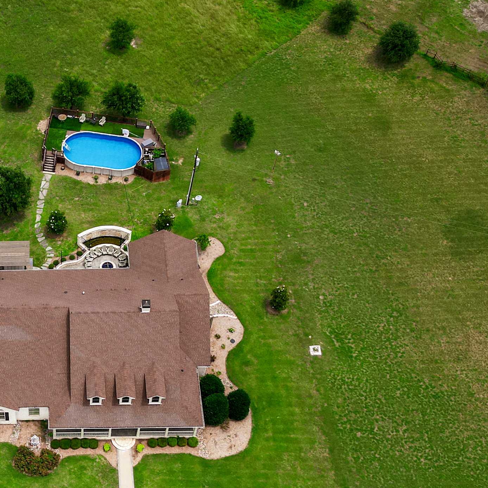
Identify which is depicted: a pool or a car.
pool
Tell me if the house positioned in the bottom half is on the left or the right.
left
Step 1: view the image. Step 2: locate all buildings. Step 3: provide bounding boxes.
[0,229,212,451]
[155,159,169,174]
